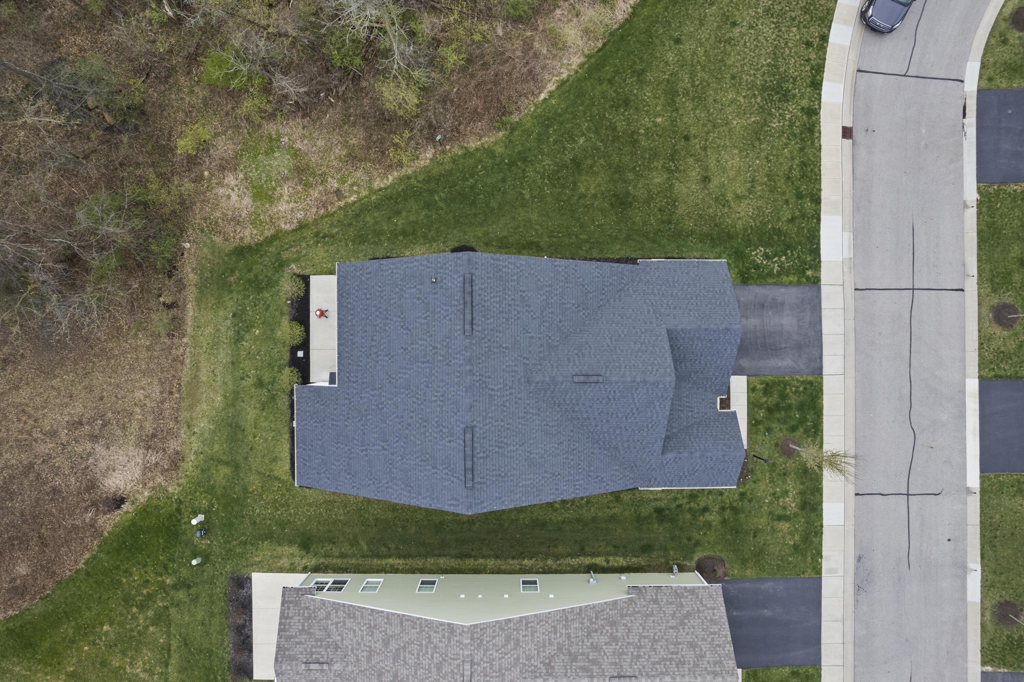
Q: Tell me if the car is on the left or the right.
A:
right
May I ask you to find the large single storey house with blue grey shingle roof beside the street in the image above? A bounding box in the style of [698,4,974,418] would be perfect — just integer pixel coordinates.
[293,251,745,514]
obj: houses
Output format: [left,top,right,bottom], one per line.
[293,251,745,514]
[272,571,739,682]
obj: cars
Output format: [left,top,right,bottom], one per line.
[862,0,916,35]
